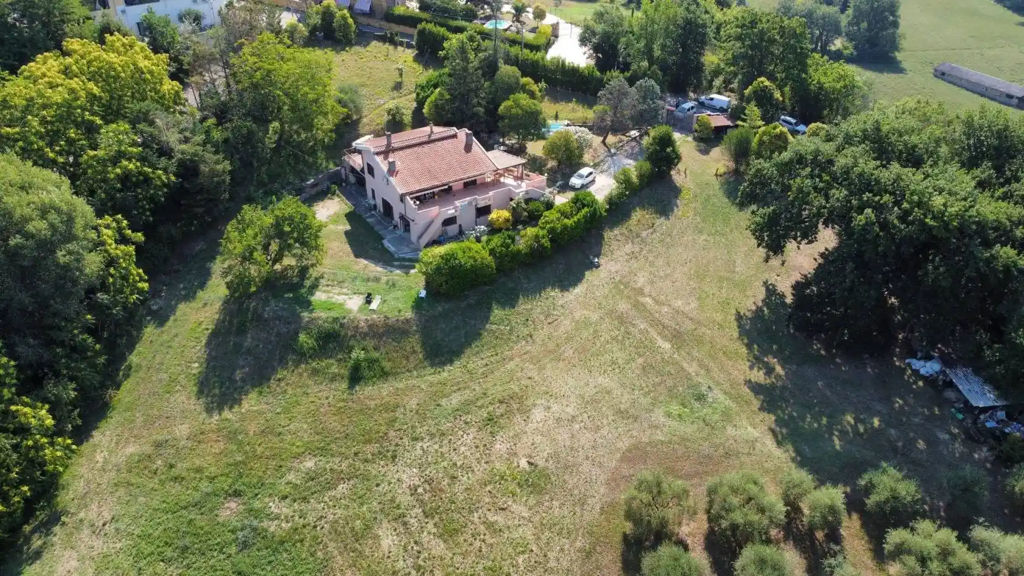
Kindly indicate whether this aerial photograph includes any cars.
Yes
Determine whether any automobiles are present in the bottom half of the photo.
No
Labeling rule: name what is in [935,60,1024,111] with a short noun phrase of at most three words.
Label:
shed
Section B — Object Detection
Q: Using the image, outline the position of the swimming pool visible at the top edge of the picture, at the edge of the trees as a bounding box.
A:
[483,17,511,30]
